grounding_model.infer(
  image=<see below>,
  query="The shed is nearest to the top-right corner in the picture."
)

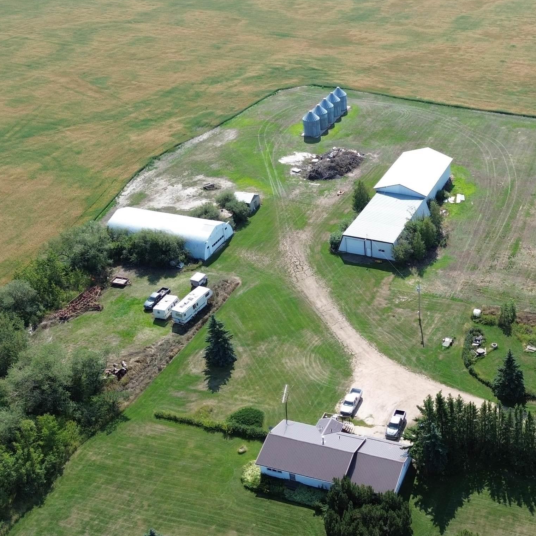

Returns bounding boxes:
[374,148,450,216]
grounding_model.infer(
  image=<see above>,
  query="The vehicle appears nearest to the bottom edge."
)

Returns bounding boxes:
[387,409,406,442]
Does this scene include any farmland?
Yes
